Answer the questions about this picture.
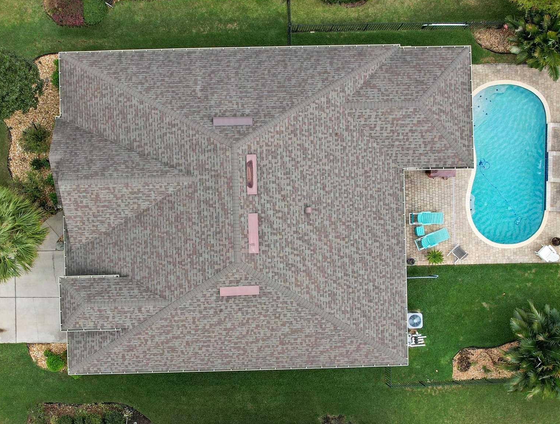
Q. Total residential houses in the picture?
1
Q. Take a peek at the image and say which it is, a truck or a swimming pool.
swimming pool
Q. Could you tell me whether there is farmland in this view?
No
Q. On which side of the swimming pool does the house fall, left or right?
on the left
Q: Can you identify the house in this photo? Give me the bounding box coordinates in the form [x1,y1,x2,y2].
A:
[49,42,476,378]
